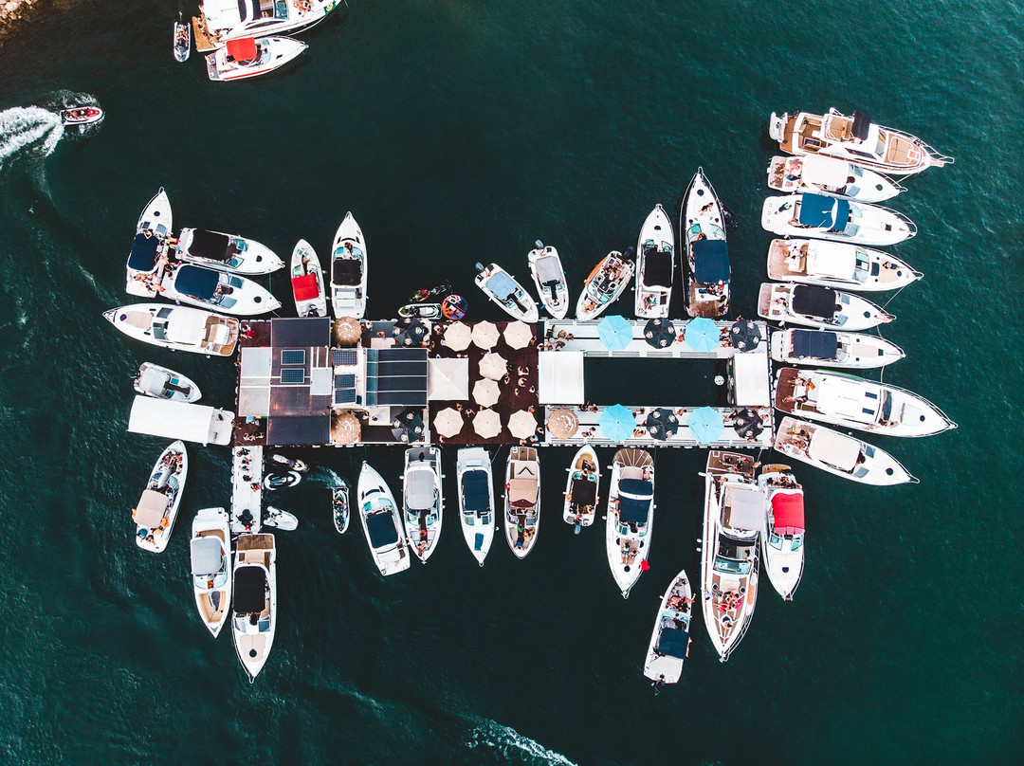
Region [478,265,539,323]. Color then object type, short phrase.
white boat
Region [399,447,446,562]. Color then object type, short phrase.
white boat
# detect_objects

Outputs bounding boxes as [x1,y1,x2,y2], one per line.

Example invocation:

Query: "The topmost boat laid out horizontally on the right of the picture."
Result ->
[773,113,953,177]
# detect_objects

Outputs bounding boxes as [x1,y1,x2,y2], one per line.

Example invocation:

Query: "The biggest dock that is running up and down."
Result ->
[230,445,265,532]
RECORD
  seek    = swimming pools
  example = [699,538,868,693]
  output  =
[585,353,727,407]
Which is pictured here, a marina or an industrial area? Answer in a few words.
marina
